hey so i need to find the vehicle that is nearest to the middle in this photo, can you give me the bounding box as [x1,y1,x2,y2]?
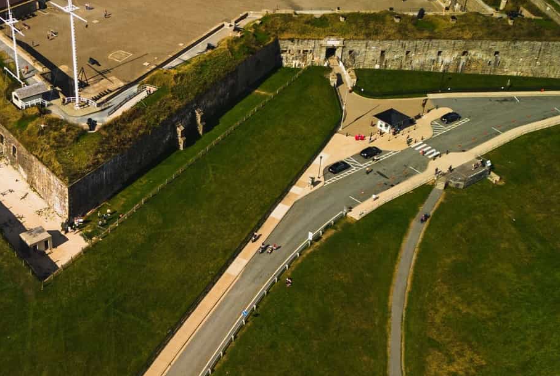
[327,159,348,174]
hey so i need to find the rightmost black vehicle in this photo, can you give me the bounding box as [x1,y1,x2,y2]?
[442,111,462,123]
